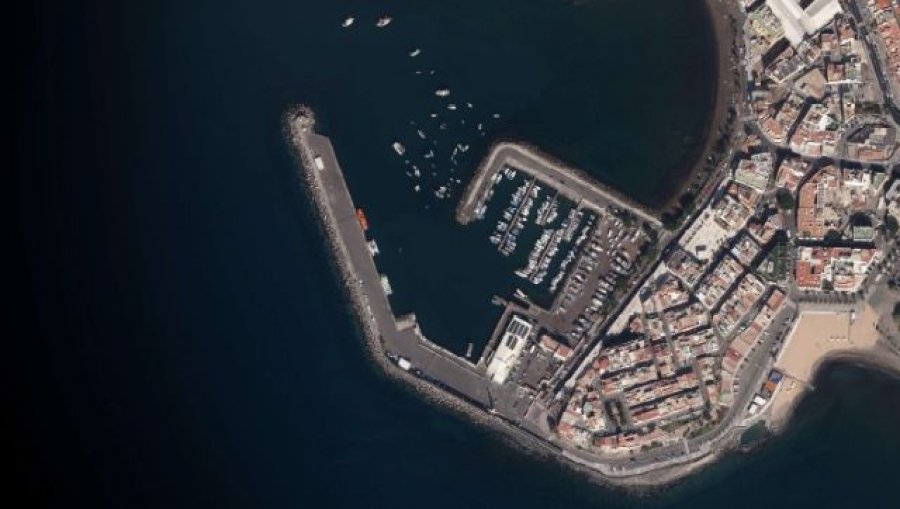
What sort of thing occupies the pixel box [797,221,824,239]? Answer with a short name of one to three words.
building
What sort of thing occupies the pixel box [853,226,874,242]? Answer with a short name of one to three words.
building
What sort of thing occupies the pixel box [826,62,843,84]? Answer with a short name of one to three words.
house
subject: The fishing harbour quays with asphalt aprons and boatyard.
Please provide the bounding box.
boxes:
[307,134,669,440]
